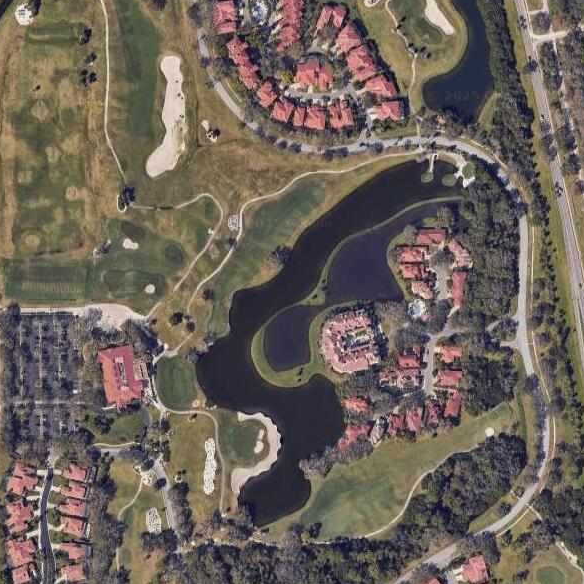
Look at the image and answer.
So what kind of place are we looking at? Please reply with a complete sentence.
The picture captures a golf course.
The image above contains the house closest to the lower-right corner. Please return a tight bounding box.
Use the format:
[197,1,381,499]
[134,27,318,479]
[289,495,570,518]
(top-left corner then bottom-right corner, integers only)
[463,555,487,583]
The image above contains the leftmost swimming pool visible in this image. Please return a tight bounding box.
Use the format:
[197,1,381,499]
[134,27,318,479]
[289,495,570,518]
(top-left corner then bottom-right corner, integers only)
[252,0,268,24]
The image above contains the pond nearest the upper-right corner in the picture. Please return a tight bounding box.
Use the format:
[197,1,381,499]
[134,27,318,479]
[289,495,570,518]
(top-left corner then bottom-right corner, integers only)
[424,0,492,123]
